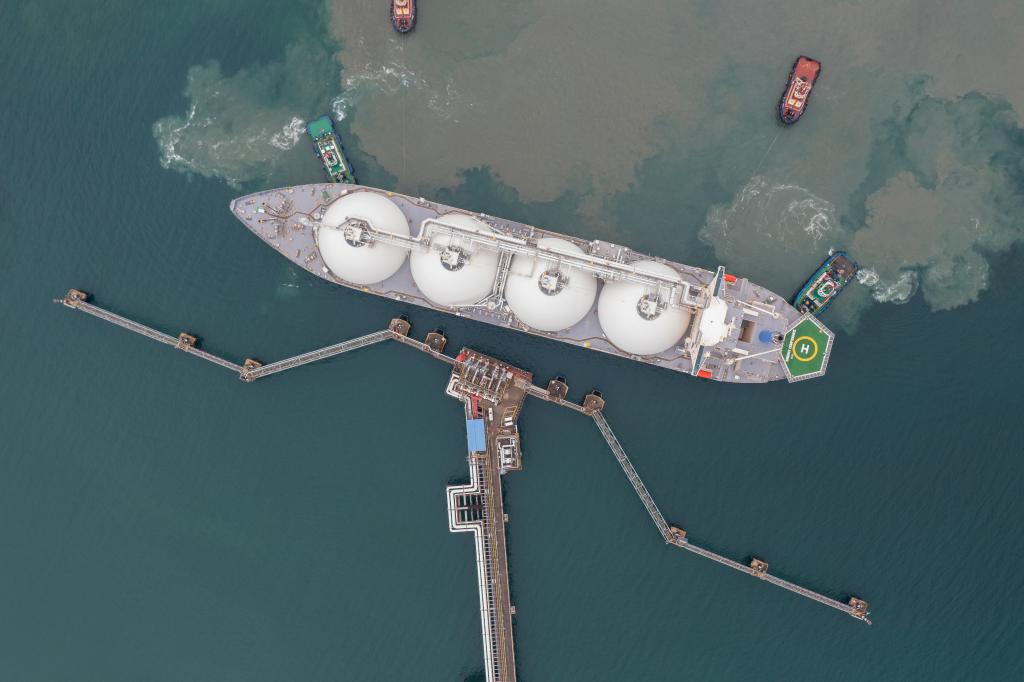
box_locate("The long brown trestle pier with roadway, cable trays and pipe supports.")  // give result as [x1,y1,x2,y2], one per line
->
[447,452,516,682]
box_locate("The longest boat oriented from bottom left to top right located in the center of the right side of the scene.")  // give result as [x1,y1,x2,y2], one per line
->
[795,250,856,317]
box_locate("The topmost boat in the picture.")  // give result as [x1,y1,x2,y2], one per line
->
[388,0,419,33]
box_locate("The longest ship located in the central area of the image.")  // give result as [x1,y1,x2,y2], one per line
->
[229,184,835,384]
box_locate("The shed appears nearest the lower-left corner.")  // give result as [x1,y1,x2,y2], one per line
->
[467,418,486,452]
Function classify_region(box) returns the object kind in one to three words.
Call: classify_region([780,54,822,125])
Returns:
boat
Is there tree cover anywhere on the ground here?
No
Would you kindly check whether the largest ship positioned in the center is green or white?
white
